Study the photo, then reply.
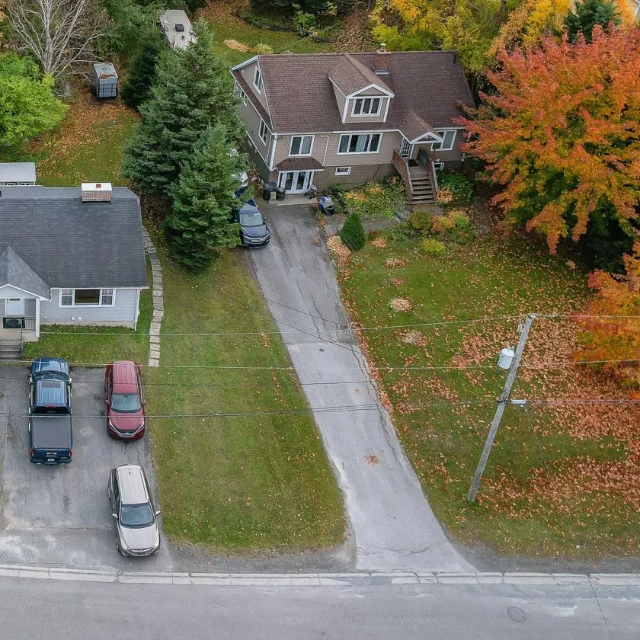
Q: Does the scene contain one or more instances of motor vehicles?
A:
Yes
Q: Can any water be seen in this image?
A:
No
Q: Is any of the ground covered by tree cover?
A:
Yes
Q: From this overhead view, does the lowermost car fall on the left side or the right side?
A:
left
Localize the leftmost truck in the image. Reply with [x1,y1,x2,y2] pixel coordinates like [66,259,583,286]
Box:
[24,358,77,462]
